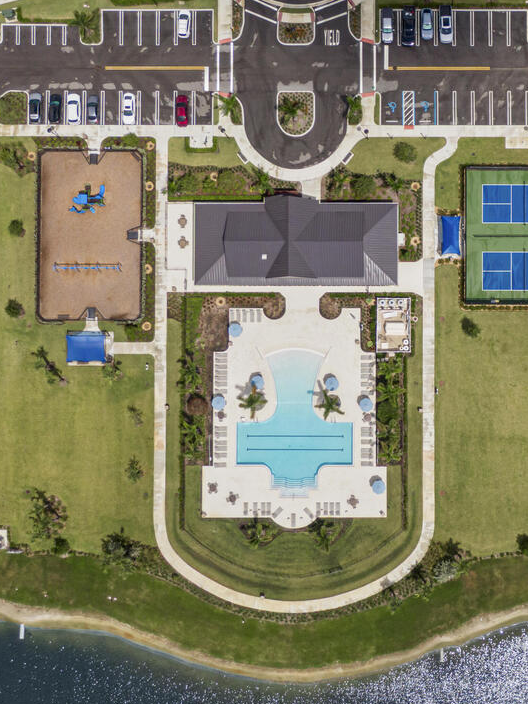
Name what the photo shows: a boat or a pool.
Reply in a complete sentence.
I can see a pool in this picture.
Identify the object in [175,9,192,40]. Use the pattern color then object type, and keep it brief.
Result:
white car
